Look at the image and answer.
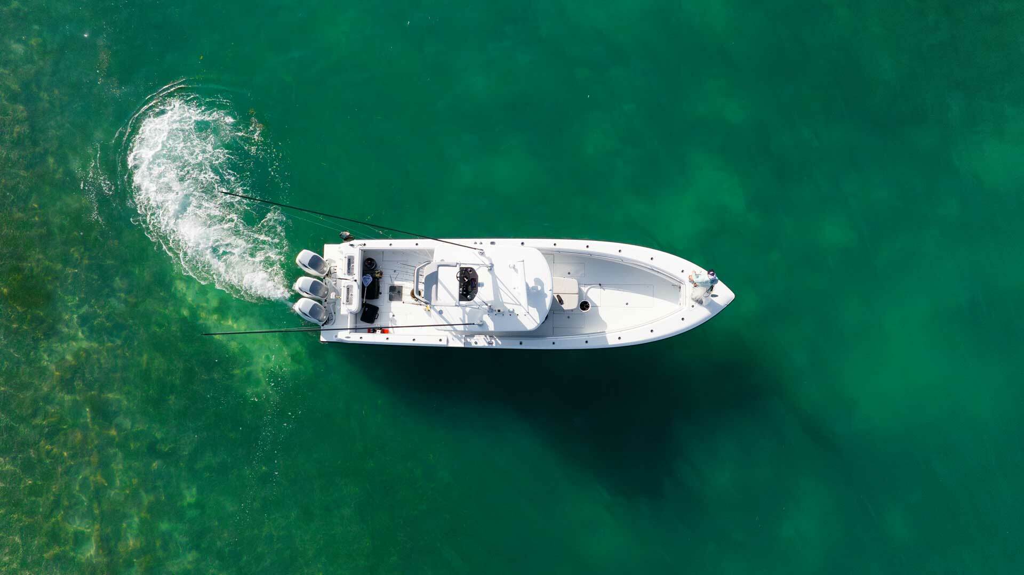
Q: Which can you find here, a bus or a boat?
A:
boat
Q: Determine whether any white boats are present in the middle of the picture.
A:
Yes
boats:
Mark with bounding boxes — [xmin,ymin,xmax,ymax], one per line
[202,191,735,349]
